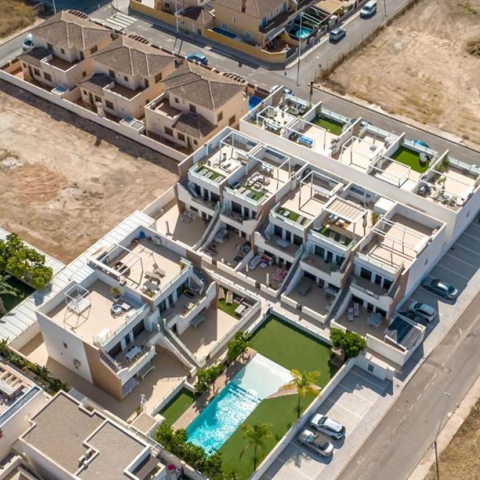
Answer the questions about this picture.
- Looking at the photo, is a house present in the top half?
Yes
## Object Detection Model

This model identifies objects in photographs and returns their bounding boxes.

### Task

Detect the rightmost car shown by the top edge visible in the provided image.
[359,0,379,17]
